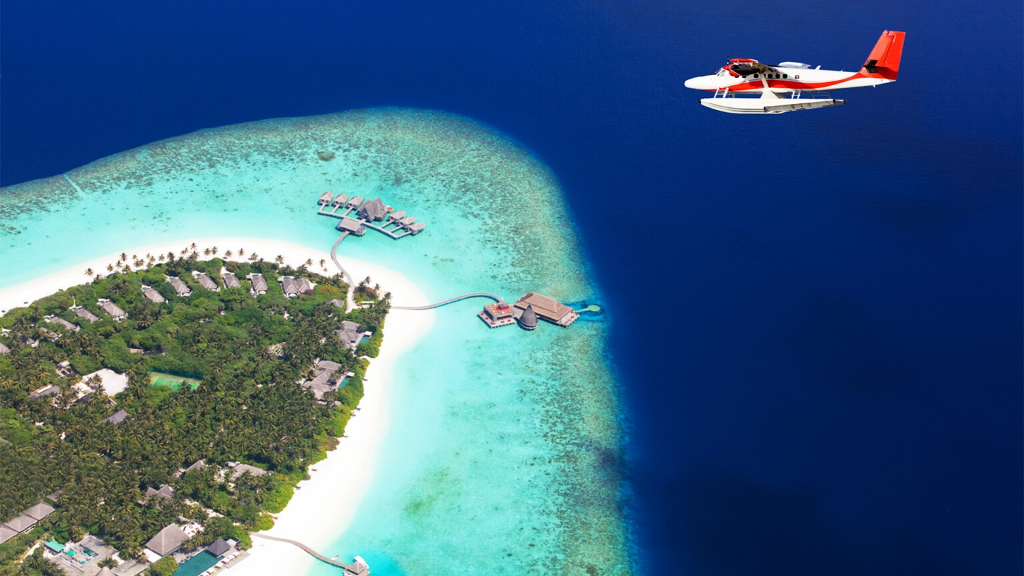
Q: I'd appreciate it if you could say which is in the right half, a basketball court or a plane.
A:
plane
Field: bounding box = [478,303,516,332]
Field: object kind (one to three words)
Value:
building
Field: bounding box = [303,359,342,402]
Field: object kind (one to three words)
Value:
house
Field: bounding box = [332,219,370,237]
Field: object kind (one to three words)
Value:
house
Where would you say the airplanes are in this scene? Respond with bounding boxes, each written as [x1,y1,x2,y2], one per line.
[685,31,905,112]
